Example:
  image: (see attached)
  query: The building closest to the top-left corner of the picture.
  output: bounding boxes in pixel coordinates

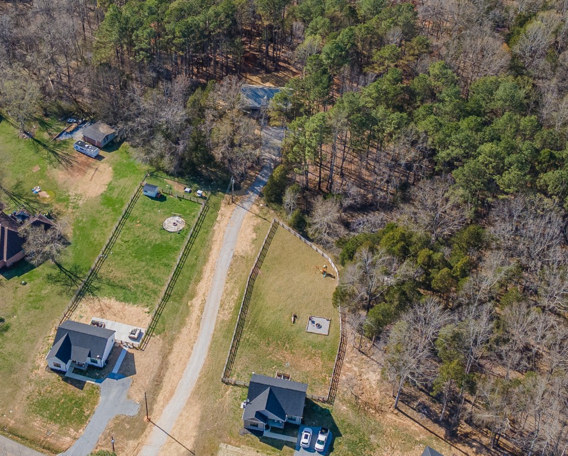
[82,122,119,151]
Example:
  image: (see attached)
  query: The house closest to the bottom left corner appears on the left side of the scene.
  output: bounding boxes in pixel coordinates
[45,319,117,372]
